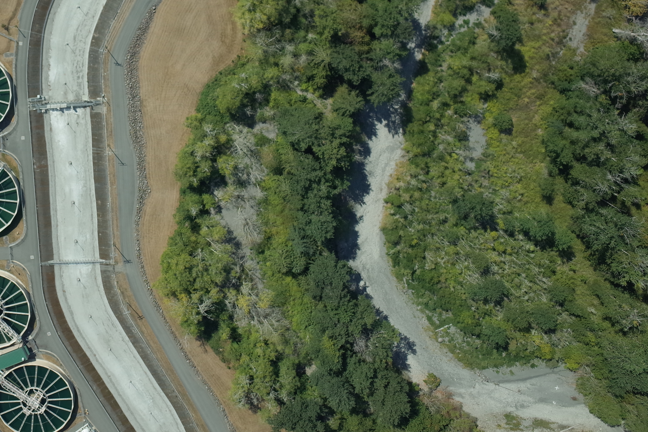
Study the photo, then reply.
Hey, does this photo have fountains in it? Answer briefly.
No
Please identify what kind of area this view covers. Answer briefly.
industrial area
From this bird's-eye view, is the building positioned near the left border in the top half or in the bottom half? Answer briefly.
bottom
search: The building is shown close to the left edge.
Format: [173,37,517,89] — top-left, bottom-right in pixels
[0,340,31,370]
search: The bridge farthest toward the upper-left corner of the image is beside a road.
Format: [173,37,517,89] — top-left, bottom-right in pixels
[29,94,102,113]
